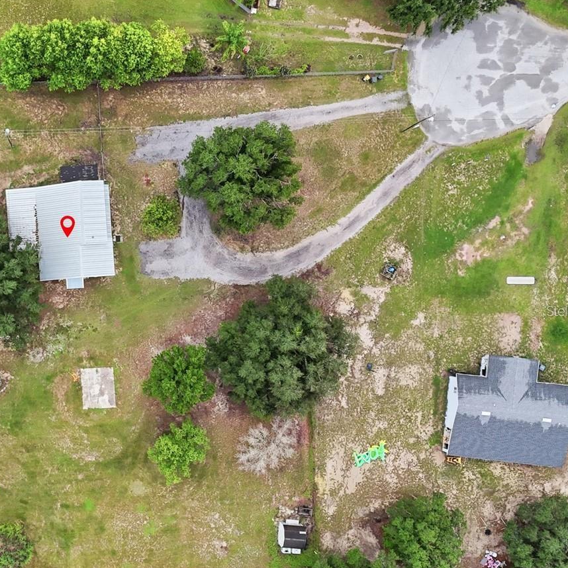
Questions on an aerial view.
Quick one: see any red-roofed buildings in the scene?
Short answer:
No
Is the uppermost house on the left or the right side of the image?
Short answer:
left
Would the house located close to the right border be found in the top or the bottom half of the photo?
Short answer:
bottom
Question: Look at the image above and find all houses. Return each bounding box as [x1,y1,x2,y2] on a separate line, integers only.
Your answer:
[6,180,115,289]
[438,355,568,468]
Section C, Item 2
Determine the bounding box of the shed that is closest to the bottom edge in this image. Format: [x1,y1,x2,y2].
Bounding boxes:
[281,520,307,549]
